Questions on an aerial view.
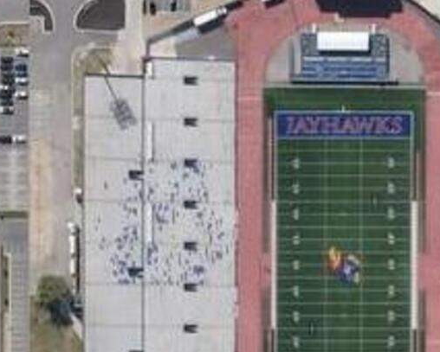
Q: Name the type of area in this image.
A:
sports ground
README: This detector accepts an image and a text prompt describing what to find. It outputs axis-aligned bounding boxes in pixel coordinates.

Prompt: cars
[1,108,13,113]
[15,50,27,55]
[1,64,13,70]
[1,85,13,90]
[15,71,27,76]
[150,1,156,14]
[15,92,27,97]
[1,78,13,83]
[1,92,13,97]
[1,99,13,104]
[15,78,27,83]
[1,57,13,62]
[142,0,147,12]
[0,137,11,142]
[13,136,26,141]
[171,0,176,11]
